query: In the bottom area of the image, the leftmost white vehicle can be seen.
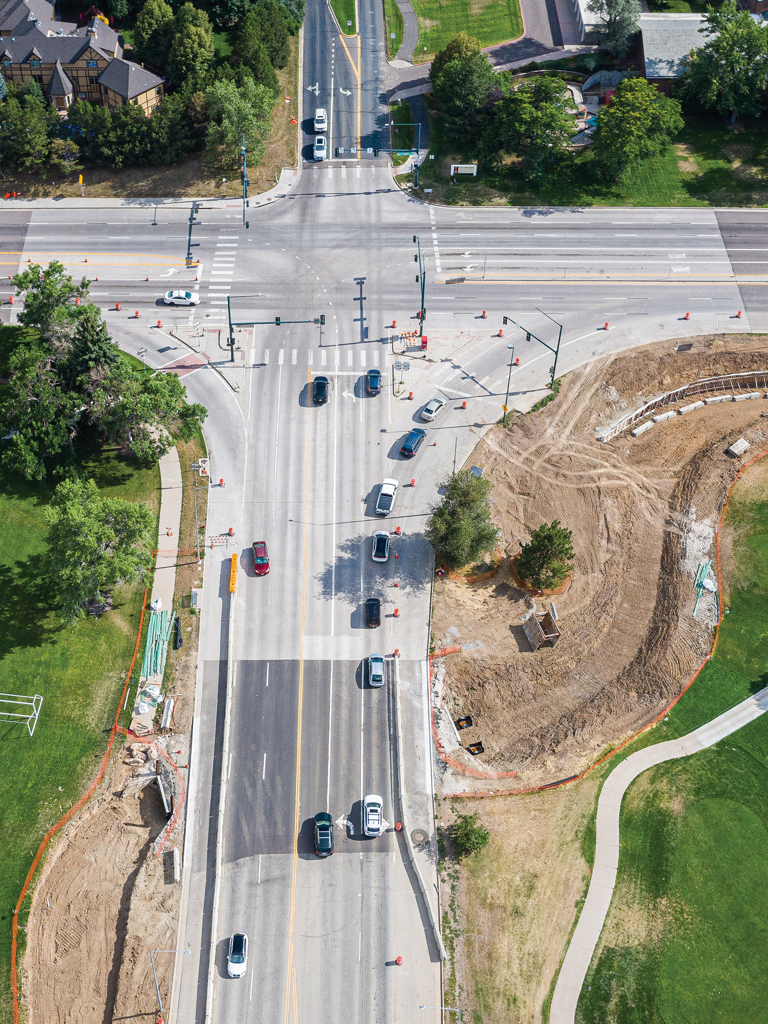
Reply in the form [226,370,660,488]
[225,931,249,979]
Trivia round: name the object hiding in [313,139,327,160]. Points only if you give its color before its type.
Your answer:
white car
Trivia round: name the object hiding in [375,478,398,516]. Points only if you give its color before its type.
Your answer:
white truck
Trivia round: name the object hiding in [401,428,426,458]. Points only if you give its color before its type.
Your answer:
blue car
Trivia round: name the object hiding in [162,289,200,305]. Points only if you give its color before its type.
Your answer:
white car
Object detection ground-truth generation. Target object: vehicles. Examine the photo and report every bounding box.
[372,531,391,563]
[313,139,327,160]
[314,110,328,132]
[252,542,271,575]
[364,598,383,630]
[362,795,385,837]
[312,377,330,403]
[366,370,383,396]
[225,931,249,979]
[312,812,335,858]
[375,478,398,516]
[420,396,447,422]
[367,653,387,689]
[162,289,200,305]
[401,428,426,458]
